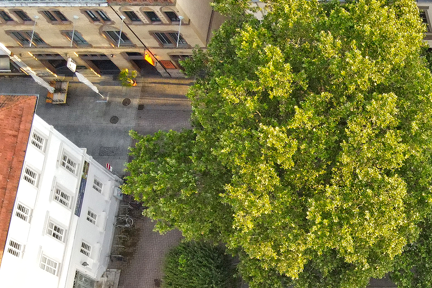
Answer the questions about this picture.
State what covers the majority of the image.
trees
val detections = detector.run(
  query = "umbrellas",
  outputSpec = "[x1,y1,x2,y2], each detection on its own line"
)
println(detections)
[77,73,107,101]
[27,69,56,94]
